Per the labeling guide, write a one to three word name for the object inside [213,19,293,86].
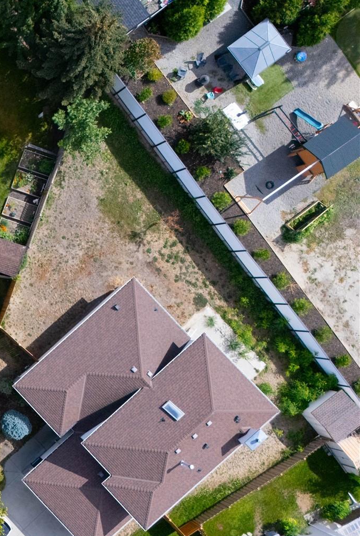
gazebo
